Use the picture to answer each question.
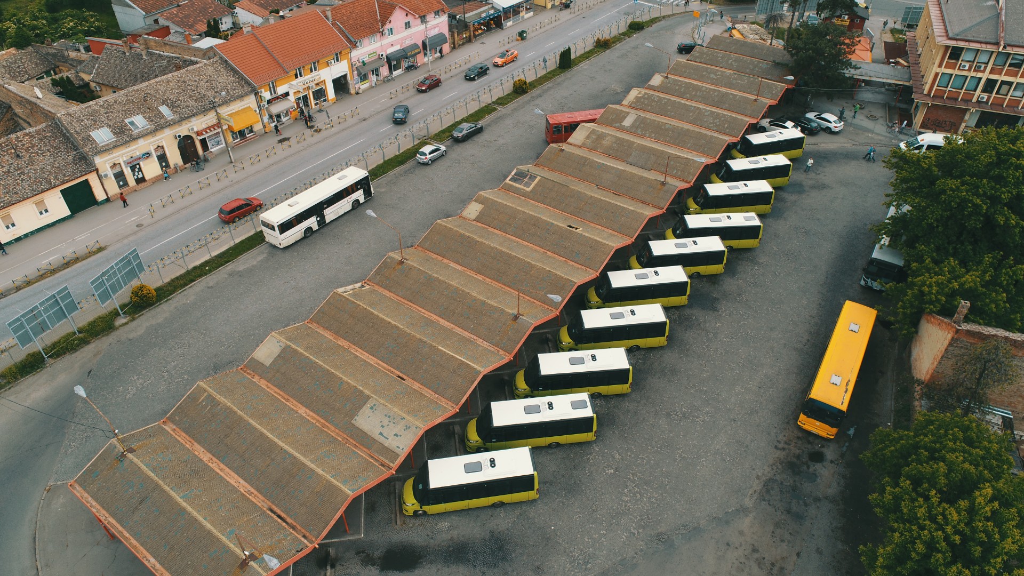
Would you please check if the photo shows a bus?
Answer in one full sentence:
Yes, this view includes a bus.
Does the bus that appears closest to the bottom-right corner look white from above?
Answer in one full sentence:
No, the bus that appears closest to the bottom-right corner is actually orange.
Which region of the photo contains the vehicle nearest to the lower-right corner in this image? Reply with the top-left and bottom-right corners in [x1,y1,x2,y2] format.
[799,302,876,436]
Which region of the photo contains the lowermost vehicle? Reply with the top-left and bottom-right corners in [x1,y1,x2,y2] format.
[403,447,539,518]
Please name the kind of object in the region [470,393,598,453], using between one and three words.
vehicle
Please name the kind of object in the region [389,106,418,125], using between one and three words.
car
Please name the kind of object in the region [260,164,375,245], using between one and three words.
bus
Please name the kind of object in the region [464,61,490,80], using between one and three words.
car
